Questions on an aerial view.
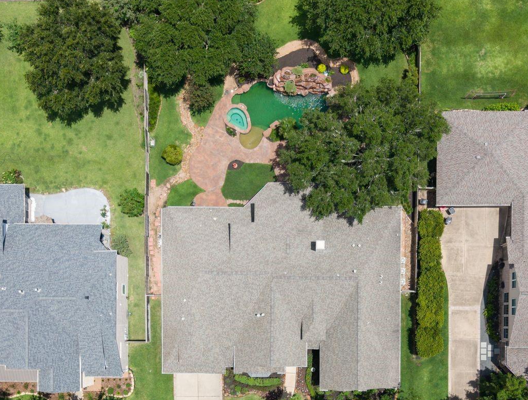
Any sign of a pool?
Yes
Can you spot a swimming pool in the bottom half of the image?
No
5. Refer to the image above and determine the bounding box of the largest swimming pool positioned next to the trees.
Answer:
[232,81,327,149]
